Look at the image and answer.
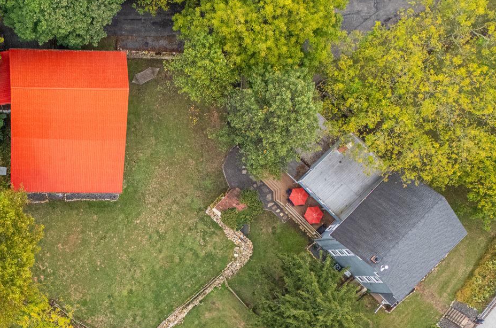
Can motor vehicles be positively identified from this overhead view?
No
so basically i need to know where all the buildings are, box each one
[312,163,468,304]
[10,48,129,196]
